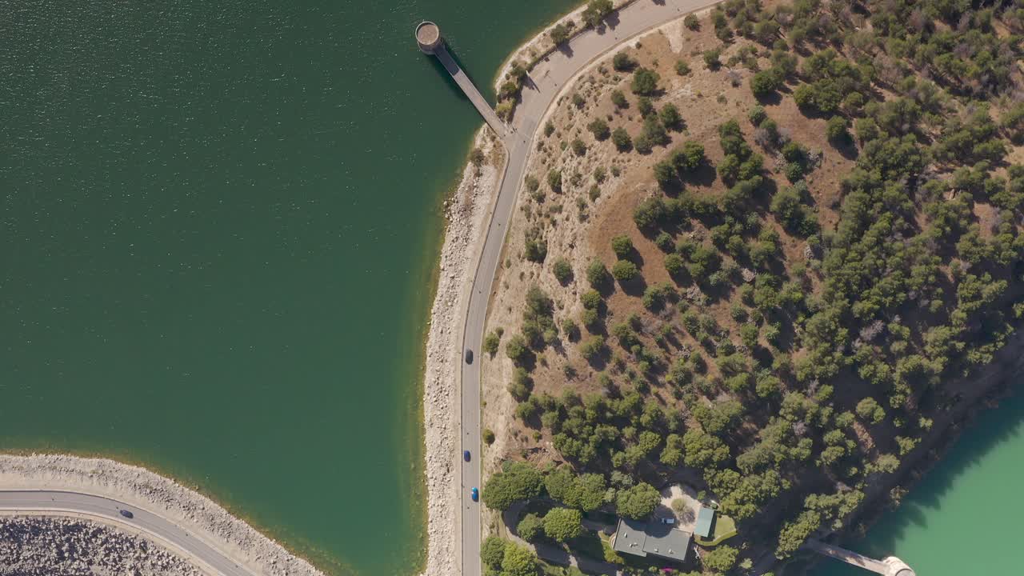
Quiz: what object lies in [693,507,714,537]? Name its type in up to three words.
shed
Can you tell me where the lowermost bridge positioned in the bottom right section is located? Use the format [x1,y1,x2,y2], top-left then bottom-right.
[799,539,889,572]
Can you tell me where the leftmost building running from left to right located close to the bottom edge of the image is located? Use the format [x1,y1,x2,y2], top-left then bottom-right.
[604,517,690,562]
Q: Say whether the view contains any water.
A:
Yes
